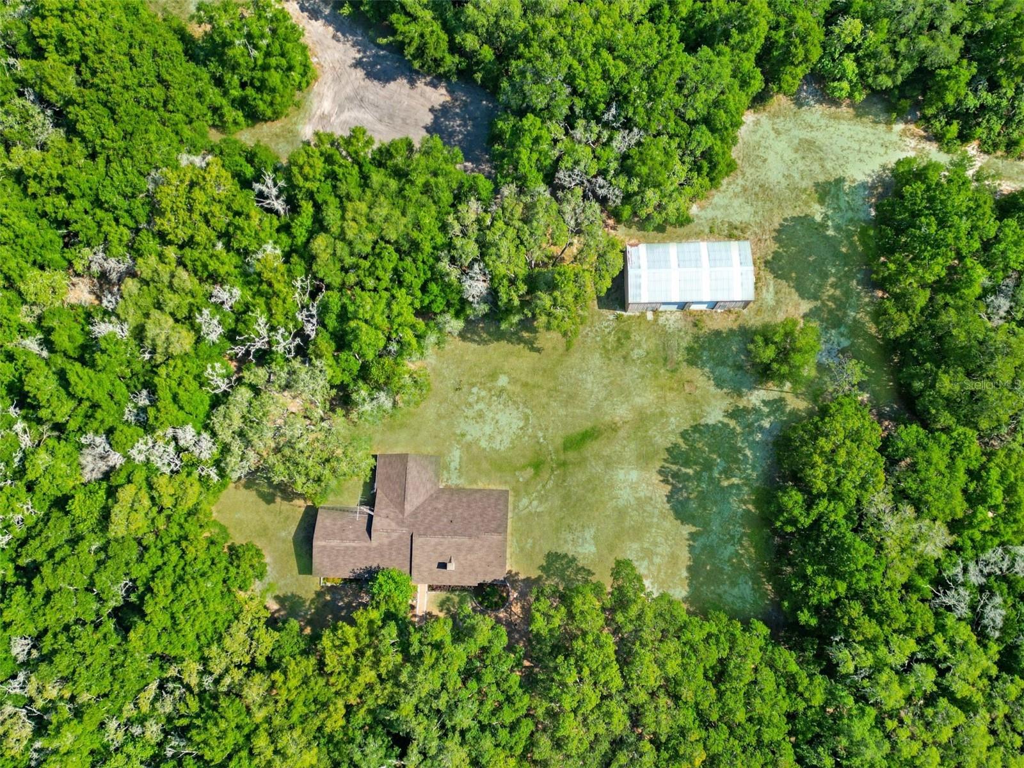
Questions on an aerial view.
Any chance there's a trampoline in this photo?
No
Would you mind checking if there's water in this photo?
No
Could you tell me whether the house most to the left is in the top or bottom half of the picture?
bottom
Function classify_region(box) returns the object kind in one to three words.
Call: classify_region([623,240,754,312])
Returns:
barn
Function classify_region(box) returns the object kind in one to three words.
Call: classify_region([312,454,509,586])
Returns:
house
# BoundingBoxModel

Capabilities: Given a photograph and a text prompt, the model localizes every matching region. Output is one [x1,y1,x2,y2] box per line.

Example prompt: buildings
[312,454,509,586]
[623,240,754,312]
